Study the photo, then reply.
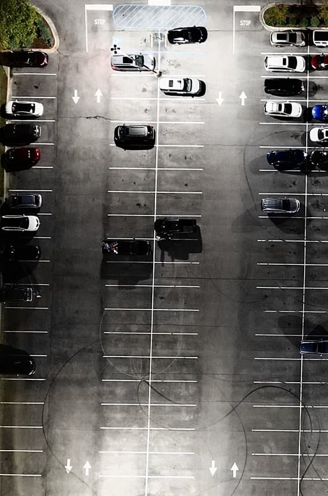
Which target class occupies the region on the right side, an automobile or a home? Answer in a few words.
automobile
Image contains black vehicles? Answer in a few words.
Yes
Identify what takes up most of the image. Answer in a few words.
paved ground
